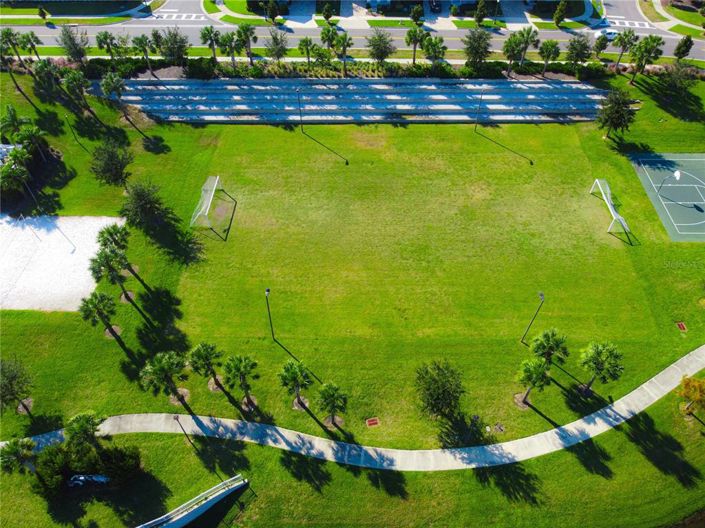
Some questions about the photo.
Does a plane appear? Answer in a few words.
No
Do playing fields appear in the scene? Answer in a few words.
Yes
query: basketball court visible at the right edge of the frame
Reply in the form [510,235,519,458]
[629,154,705,241]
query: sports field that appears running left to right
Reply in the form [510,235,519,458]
[173,127,663,340]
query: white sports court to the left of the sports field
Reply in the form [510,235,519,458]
[0,215,126,310]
